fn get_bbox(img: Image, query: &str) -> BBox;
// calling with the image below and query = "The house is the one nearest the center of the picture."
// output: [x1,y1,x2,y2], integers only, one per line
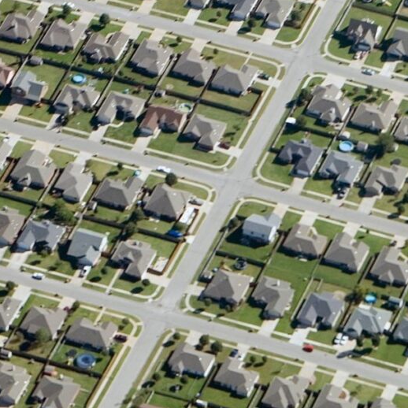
[143,187,193,223]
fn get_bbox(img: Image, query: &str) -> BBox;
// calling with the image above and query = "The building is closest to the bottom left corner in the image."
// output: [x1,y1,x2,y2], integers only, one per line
[0,365,37,408]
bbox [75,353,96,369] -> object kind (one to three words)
swimming pool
